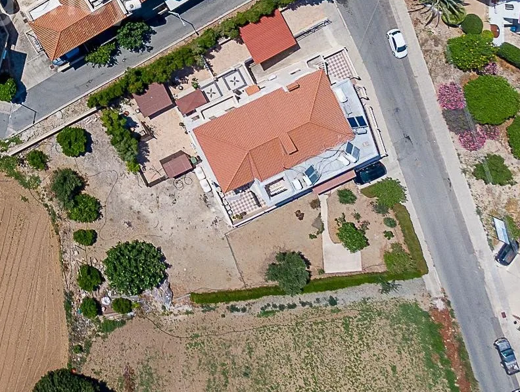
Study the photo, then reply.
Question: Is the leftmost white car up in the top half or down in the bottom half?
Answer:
top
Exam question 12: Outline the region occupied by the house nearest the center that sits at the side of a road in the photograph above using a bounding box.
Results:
[181,47,391,229]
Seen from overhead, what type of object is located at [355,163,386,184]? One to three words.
car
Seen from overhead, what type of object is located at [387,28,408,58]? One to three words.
car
